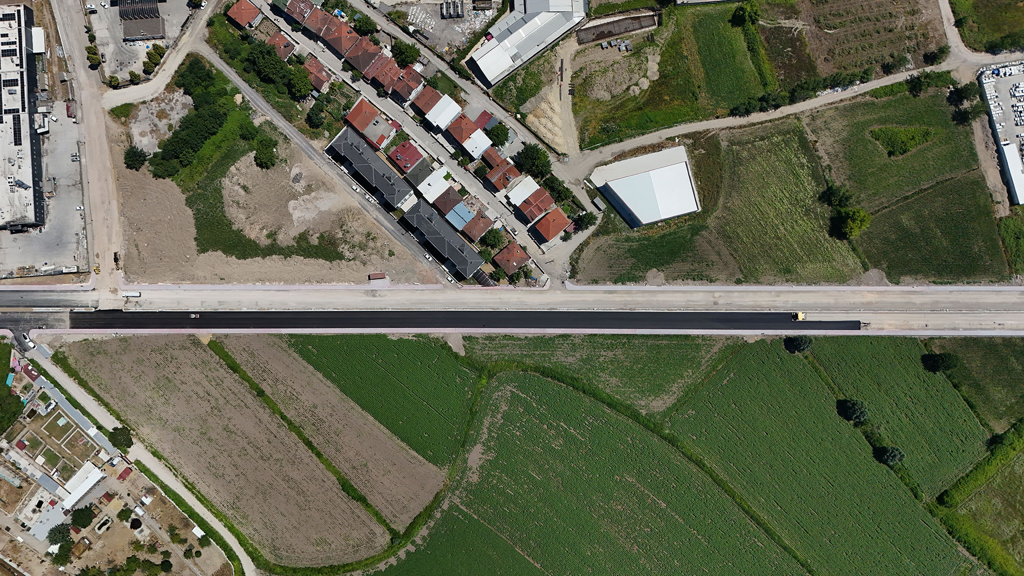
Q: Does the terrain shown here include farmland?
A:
Yes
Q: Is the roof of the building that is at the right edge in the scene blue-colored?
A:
No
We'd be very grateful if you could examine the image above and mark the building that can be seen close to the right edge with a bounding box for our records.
[996,142,1024,206]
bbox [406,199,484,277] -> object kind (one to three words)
building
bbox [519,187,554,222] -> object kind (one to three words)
house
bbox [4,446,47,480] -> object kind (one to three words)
barn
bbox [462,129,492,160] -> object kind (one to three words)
house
